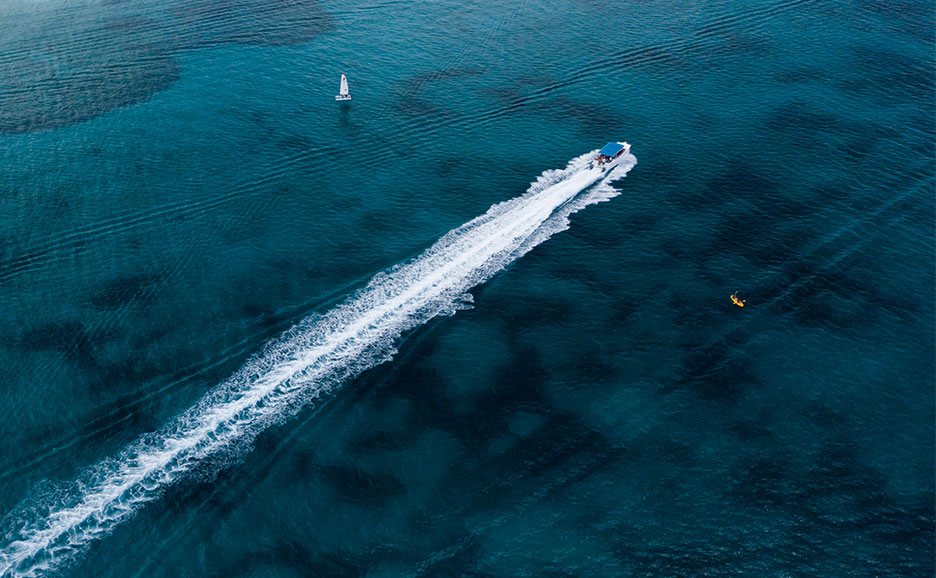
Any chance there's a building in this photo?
No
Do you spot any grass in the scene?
No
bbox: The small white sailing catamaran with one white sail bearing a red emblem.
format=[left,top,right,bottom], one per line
[336,72,353,101]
